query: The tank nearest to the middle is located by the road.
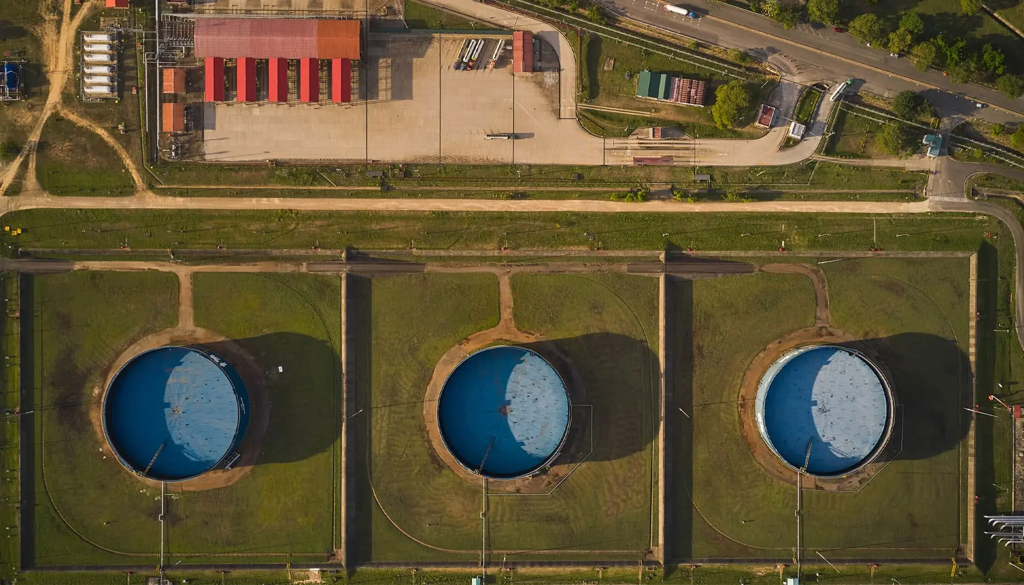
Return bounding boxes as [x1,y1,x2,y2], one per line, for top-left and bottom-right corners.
[435,342,573,482]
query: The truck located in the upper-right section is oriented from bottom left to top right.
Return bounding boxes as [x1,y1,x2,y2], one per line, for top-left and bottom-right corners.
[830,75,856,101]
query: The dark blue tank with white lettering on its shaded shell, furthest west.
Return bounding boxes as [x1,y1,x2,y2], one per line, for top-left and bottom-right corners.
[100,342,250,484]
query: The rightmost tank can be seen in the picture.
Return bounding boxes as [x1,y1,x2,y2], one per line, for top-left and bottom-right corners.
[752,342,897,480]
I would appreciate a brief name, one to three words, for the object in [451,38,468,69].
vehicle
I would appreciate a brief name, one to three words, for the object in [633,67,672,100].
building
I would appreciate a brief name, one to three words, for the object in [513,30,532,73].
building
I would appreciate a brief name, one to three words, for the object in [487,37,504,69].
vehicle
